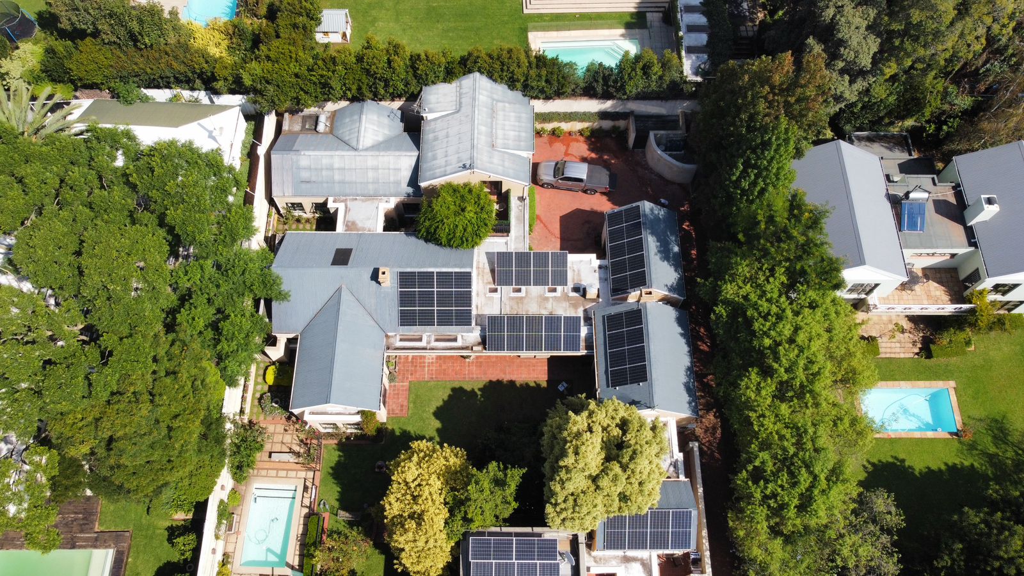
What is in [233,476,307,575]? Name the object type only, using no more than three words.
swimming pool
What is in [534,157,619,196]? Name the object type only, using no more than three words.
truck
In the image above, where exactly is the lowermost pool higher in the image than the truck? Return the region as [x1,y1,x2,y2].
[536,36,644,92]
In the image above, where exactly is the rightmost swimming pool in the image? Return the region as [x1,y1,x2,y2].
[853,380,970,441]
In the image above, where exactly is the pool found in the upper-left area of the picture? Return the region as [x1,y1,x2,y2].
[176,0,239,24]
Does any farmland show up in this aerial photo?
No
